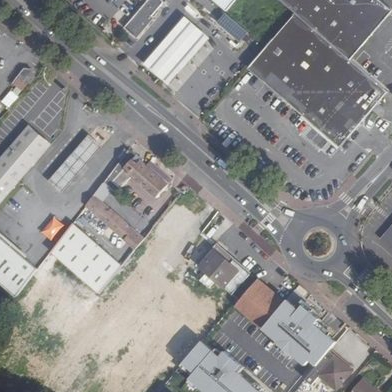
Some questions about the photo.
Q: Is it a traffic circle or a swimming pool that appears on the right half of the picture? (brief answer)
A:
traffic circle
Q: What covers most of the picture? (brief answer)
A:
paved ground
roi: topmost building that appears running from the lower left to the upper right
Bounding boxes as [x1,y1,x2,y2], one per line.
[124,0,164,40]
